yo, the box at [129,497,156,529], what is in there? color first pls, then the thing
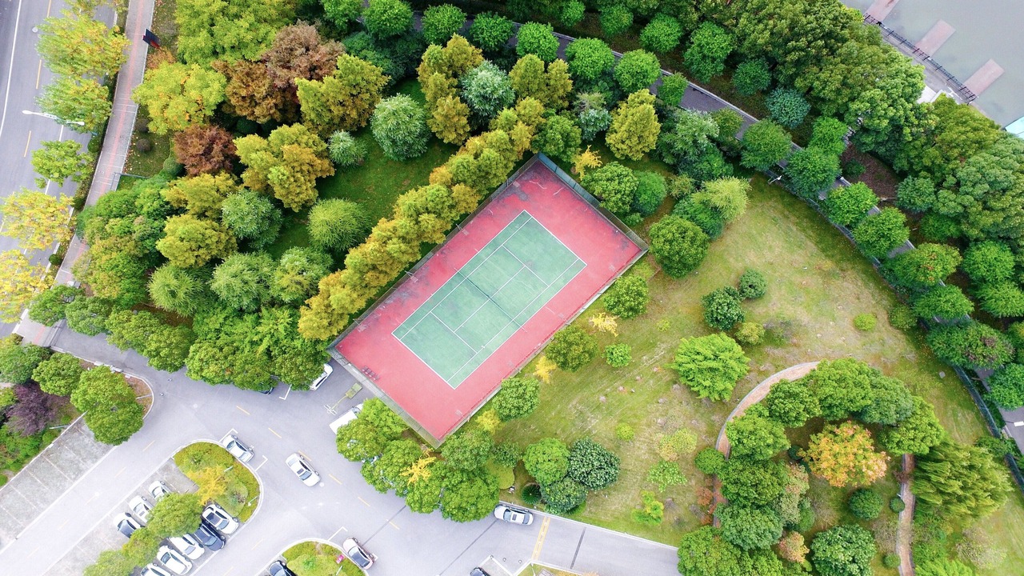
white car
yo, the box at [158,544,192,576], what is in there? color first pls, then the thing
white car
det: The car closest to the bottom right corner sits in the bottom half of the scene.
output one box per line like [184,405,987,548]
[494,503,533,525]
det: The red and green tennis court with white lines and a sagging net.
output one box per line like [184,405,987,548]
[330,156,643,443]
